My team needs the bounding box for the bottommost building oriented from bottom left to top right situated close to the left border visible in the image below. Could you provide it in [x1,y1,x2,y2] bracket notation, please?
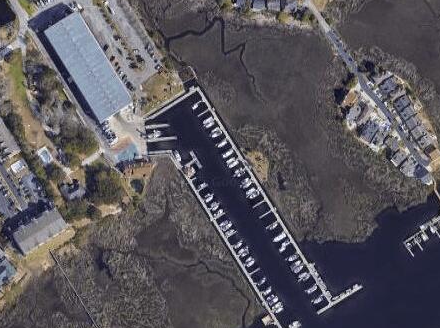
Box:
[12,207,68,254]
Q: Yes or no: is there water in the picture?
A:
Yes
